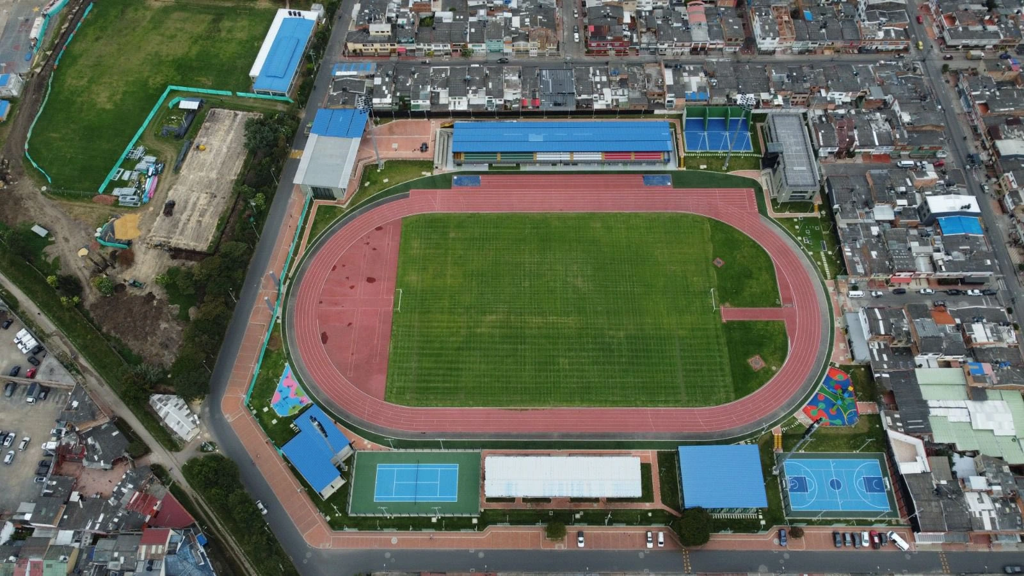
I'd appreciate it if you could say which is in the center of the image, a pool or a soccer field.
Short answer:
soccer field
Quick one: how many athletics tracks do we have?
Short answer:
1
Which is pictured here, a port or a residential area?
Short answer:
residential area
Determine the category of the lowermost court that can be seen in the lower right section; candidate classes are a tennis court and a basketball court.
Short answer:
basketball court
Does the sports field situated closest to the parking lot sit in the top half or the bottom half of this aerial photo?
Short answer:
top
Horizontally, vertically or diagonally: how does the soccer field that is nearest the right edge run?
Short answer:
horizontally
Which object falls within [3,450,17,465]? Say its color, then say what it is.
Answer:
white car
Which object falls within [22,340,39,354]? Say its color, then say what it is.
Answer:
white vehicle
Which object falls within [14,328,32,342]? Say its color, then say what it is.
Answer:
white vehicle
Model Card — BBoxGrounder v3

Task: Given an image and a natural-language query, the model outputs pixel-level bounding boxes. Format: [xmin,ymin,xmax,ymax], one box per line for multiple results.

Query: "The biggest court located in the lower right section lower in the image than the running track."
[772,452,903,519]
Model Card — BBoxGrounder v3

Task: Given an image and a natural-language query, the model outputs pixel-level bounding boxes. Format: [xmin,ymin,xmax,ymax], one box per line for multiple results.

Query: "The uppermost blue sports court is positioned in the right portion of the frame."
[685,106,756,151]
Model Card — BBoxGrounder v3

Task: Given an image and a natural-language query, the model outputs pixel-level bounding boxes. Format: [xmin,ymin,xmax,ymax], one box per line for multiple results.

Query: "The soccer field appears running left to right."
[386,213,798,407]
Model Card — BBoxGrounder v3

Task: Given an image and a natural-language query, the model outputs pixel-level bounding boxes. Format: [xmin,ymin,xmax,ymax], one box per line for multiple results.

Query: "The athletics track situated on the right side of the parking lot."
[280,169,835,450]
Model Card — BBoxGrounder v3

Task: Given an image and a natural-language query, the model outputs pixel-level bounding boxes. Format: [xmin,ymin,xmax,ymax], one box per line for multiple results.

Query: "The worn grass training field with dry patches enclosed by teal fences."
[26,0,282,194]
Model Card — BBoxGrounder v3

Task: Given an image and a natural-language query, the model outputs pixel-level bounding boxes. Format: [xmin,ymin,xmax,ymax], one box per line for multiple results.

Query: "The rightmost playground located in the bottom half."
[803,366,860,427]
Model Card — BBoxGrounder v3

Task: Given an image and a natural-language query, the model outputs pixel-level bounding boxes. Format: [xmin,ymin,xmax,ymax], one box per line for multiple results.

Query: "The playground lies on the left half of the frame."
[272,363,313,417]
